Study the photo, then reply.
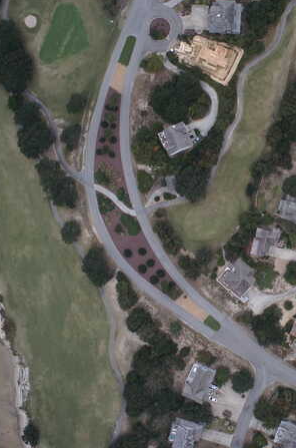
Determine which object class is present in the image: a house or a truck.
house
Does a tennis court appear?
No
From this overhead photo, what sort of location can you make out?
golf course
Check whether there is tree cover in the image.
Yes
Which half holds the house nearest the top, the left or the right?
right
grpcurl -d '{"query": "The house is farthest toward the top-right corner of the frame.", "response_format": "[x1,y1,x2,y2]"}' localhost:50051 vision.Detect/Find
[210,1,240,34]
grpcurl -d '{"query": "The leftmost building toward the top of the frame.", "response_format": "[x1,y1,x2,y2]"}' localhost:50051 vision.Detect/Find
[159,120,200,155]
